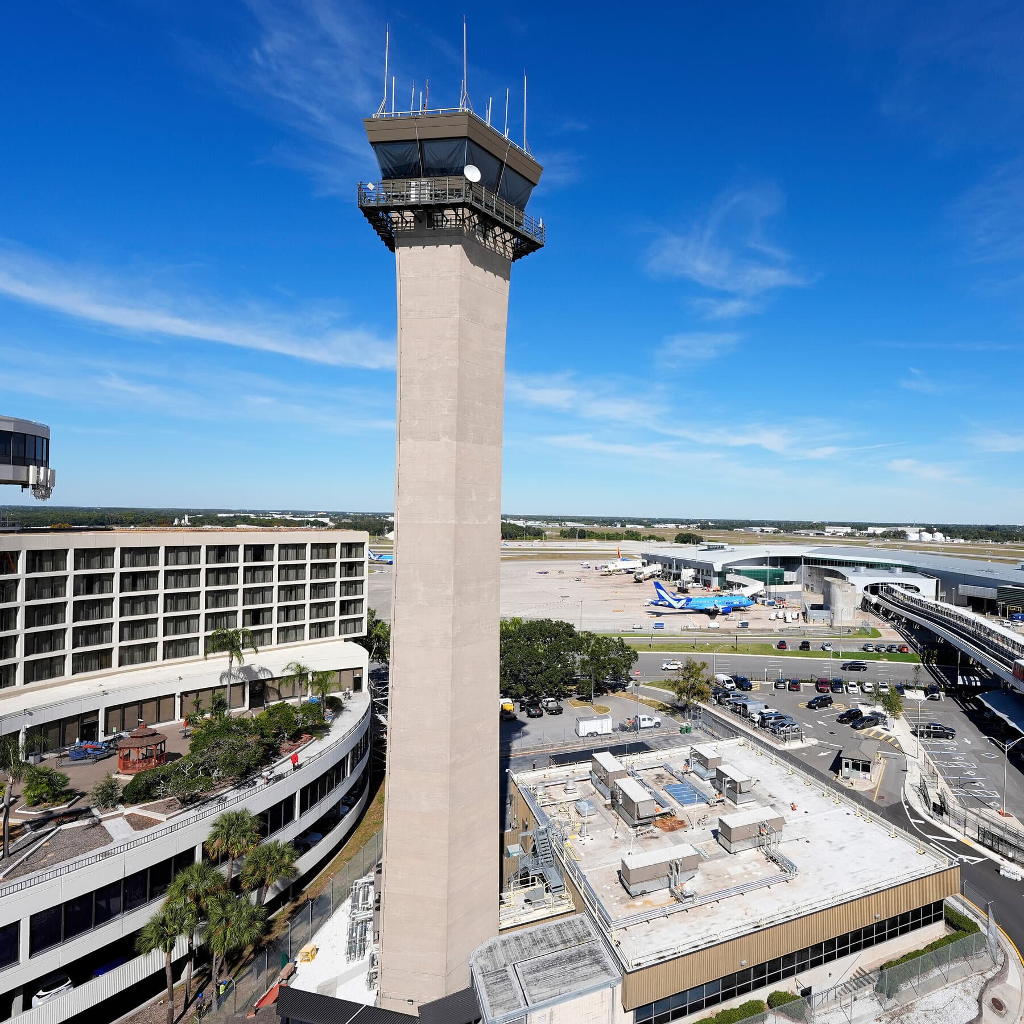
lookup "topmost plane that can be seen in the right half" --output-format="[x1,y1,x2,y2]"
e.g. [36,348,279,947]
[617,548,641,560]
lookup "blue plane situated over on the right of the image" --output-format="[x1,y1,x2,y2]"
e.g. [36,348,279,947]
[645,579,756,614]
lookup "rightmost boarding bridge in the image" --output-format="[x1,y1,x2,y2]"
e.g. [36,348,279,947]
[741,577,767,601]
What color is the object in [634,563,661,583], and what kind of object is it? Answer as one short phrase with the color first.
white jet bridge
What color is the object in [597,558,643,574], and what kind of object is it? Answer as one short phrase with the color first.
white jet bridge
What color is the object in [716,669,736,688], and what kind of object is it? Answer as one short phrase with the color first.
white vehicle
